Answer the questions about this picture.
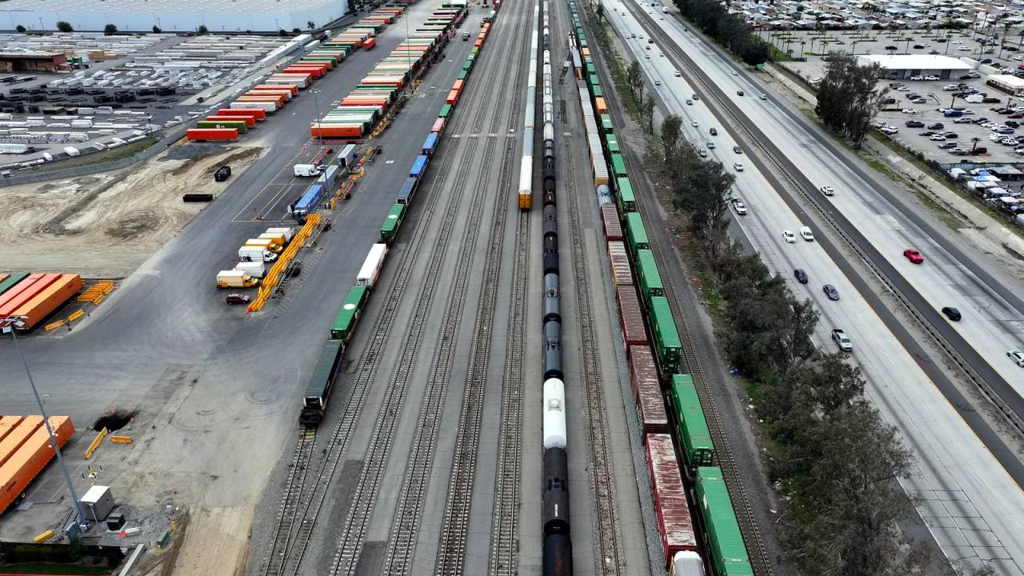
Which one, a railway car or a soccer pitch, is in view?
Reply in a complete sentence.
Visible in the photo is a railway car.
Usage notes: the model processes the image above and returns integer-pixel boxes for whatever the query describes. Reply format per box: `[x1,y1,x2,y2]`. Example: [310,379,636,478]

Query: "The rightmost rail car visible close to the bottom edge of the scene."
[643,434,697,572]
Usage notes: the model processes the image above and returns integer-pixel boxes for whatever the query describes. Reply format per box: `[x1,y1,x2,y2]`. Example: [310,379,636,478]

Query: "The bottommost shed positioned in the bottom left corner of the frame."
[78,485,115,519]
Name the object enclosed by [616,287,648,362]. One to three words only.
rail car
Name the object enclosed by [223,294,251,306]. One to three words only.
vehicle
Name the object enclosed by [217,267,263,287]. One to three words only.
vehicle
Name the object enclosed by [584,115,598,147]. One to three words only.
rail car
